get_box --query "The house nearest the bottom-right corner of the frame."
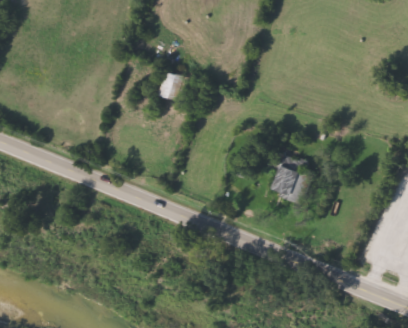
[272,161,308,202]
